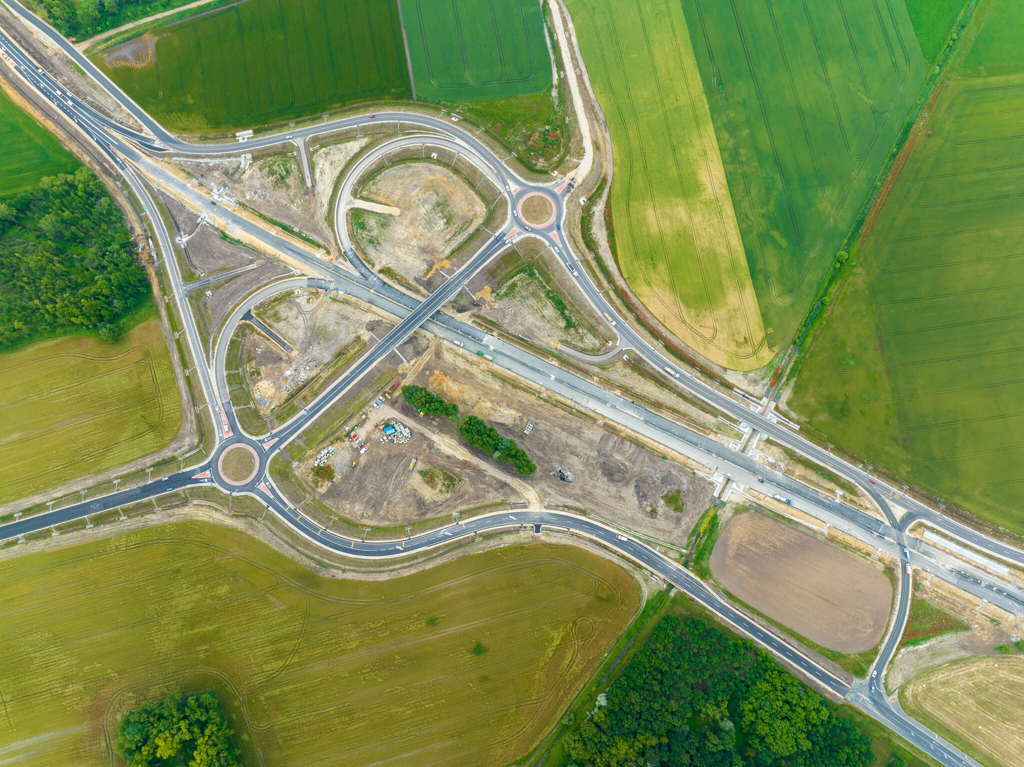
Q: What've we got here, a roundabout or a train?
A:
roundabout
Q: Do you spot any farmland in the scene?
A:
Yes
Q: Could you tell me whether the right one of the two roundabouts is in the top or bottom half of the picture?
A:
top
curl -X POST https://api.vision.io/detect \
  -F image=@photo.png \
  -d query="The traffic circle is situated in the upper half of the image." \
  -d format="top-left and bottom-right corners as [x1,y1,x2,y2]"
[481,165,580,262]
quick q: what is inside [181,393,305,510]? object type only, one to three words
roundabout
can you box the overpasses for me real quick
[383,278,457,354]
